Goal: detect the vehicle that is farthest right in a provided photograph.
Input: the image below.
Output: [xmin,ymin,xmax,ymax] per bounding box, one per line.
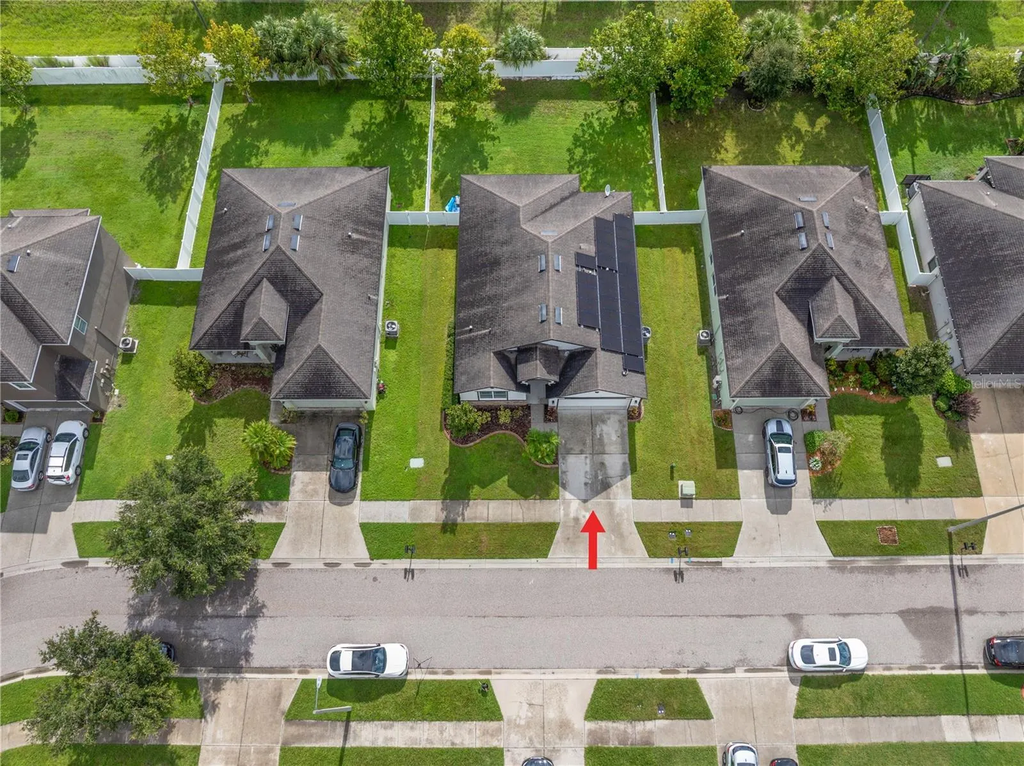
[980,636,1024,669]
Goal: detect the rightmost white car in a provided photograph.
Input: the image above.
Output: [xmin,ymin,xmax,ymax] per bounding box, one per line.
[785,637,869,674]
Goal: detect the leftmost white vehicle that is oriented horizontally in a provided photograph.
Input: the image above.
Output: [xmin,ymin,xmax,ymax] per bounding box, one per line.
[326,641,409,681]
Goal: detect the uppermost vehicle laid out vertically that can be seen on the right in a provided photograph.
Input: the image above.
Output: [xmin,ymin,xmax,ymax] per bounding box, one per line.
[763,418,799,487]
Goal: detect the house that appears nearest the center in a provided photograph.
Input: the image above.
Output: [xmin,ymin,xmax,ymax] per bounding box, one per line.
[454,174,647,408]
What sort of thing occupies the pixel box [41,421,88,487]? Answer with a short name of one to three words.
car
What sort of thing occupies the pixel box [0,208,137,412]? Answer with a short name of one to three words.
house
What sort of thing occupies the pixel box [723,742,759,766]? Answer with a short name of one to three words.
car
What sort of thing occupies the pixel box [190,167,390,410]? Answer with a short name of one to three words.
house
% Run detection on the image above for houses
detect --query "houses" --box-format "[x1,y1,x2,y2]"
[0,208,137,412]
[903,157,1024,385]
[698,167,909,410]
[454,174,647,408]
[190,167,390,410]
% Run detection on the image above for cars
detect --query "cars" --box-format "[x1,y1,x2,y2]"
[767,757,801,766]
[9,427,53,491]
[980,636,1024,669]
[763,418,799,487]
[326,641,409,681]
[523,757,553,766]
[328,421,363,493]
[723,742,759,766]
[785,637,869,674]
[41,421,88,487]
